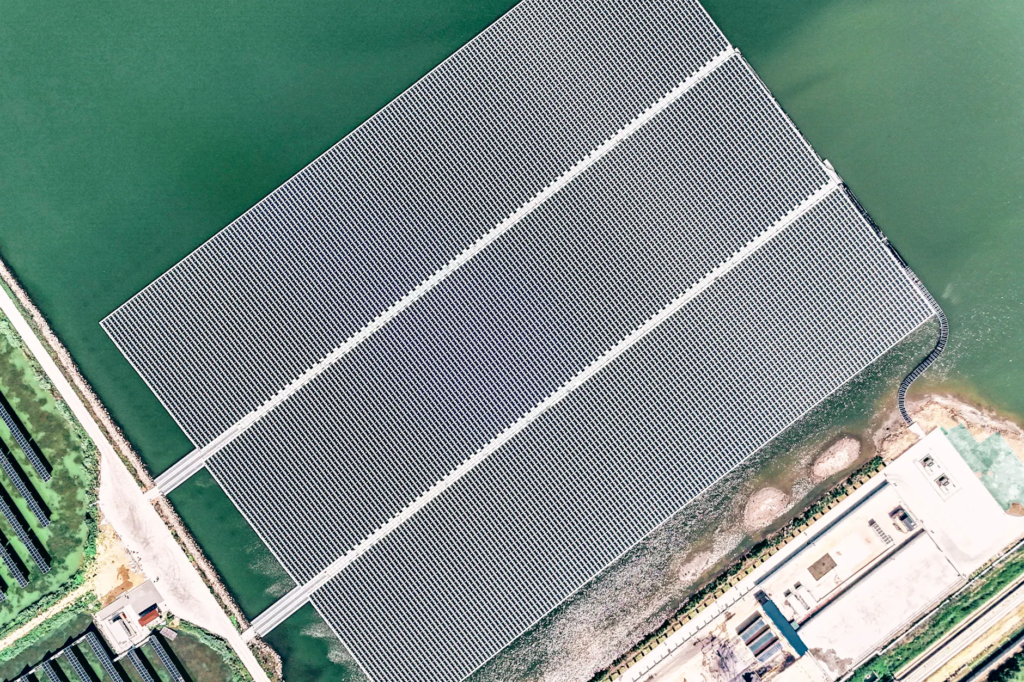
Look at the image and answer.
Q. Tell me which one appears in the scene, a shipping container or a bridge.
bridge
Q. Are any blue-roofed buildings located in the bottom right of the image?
Yes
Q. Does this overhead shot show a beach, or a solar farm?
solar farm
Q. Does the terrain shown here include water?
Yes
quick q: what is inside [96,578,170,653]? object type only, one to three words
building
